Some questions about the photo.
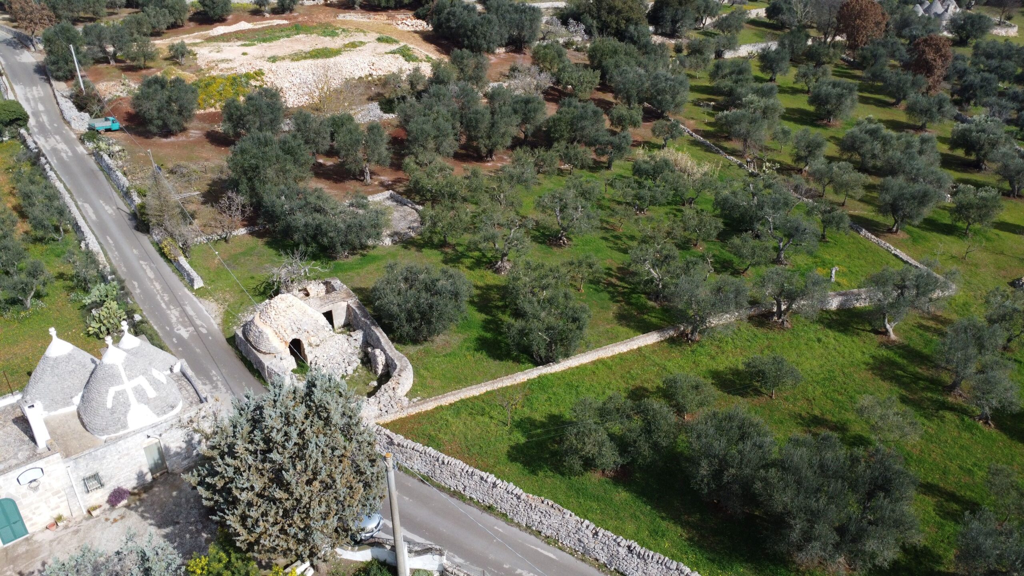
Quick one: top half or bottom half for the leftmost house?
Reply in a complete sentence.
You can find the leftmost house in the bottom half.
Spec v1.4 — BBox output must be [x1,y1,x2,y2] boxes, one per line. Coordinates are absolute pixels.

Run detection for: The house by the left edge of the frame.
[0,317,223,550]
